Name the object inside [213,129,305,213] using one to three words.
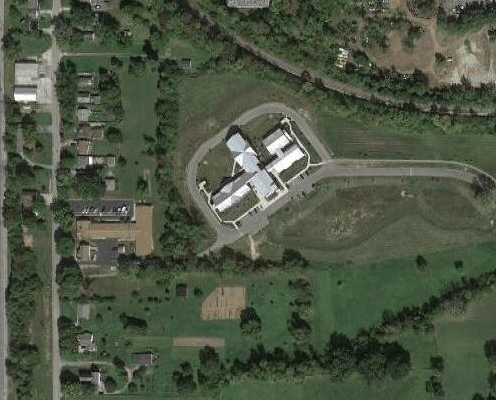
building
